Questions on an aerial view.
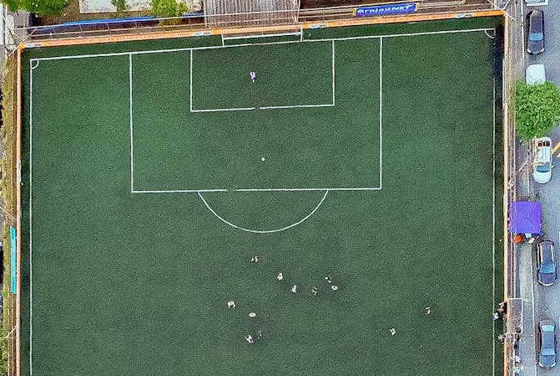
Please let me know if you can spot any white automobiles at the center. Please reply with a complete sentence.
No, no white automobile can be made out at the center.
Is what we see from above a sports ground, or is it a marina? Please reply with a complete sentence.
The area seen from above is a sports ground.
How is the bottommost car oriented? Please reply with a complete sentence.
In this picture, the bottommost car is oriented from top to bottom.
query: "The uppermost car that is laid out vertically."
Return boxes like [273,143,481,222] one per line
[524,10,546,56]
